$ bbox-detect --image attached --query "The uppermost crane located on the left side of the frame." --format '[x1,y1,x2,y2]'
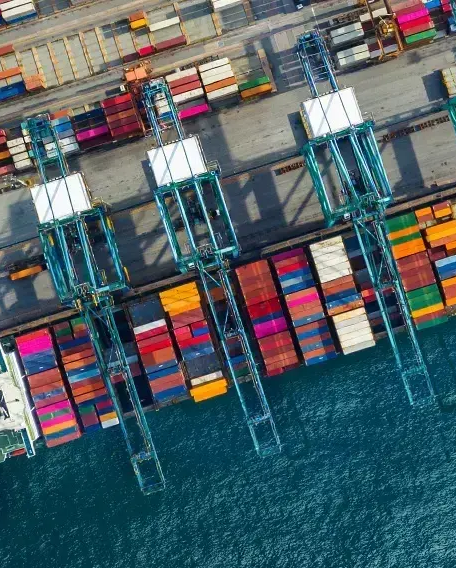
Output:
[122,59,174,143]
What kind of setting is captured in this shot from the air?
port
